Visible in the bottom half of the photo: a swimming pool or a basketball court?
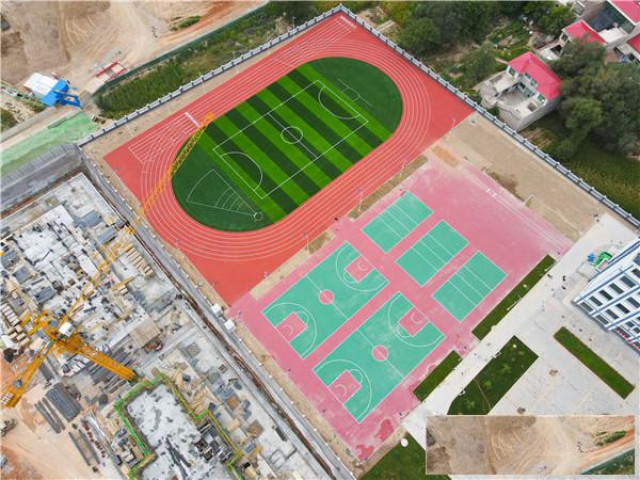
basketball court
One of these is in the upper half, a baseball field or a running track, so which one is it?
running track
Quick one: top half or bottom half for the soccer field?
top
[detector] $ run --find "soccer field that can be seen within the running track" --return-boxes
[170,57,402,233]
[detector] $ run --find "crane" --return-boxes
[0,112,217,408]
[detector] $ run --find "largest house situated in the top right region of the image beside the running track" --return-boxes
[477,48,574,128]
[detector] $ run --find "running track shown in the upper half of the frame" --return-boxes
[103,11,474,303]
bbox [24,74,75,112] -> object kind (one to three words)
shed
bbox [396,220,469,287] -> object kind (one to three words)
sports court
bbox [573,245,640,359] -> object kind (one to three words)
building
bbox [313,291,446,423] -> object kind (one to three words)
basketball court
